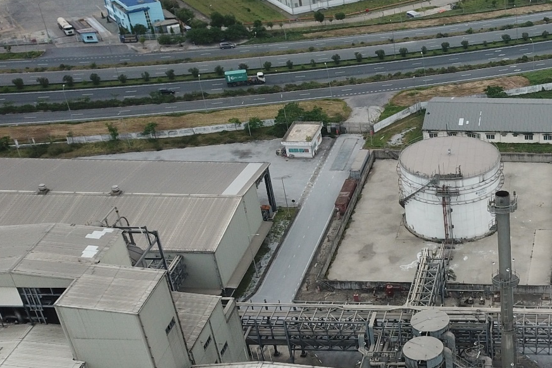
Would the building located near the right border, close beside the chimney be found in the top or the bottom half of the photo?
top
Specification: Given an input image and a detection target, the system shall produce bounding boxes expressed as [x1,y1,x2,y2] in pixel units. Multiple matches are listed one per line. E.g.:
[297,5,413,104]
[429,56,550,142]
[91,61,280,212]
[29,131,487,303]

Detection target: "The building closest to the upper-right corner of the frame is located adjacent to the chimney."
[405,103,552,142]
